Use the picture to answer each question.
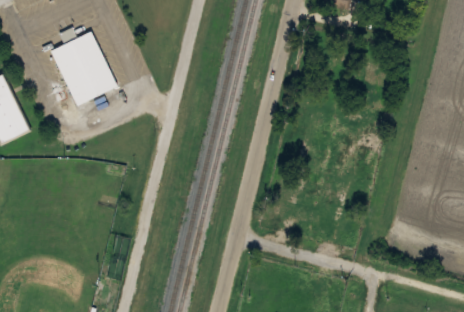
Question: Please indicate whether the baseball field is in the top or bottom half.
bottom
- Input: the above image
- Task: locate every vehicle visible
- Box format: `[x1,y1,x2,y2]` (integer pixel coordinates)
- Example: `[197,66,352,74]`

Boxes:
[75,26,85,34]
[43,44,54,51]
[120,90,127,101]
[270,71,275,82]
